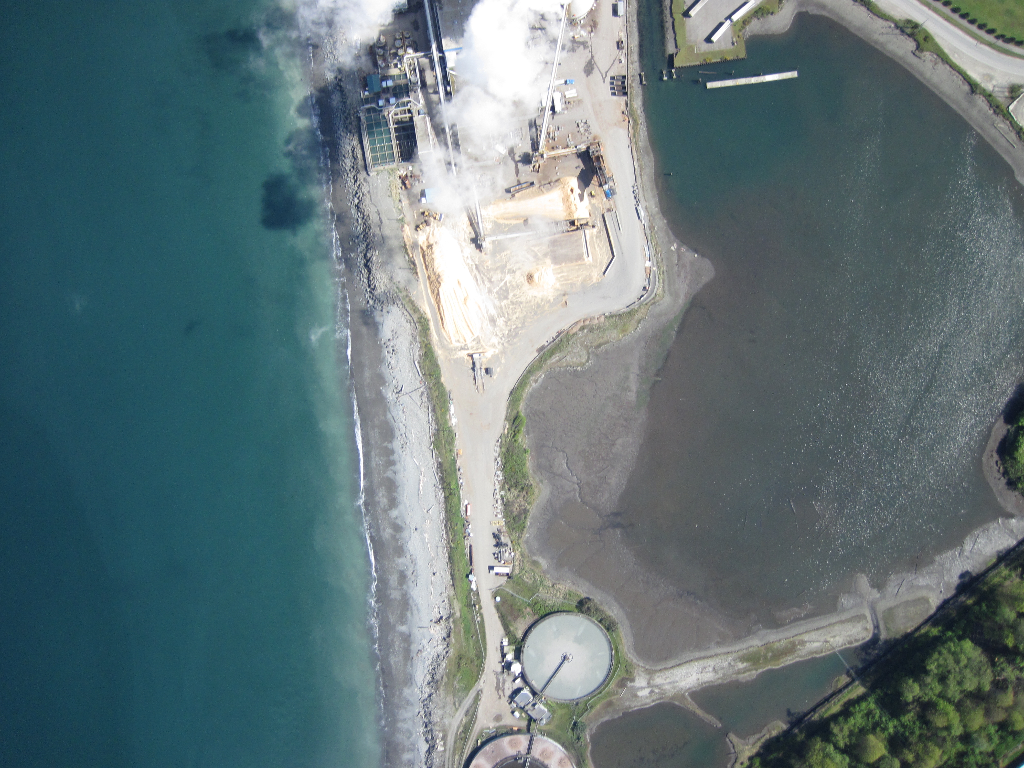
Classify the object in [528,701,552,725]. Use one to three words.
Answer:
building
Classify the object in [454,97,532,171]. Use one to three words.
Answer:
building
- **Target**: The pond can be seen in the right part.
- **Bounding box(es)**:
[590,646,855,768]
